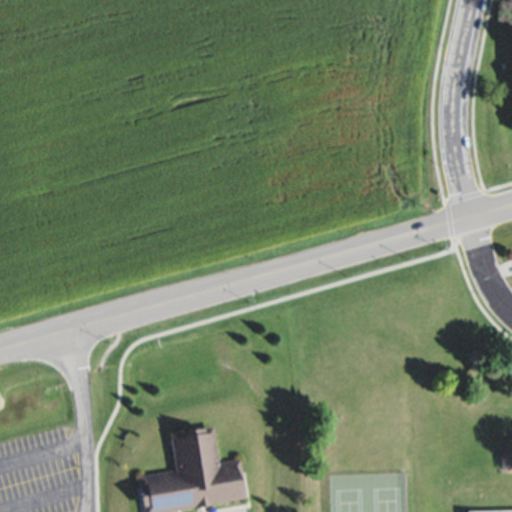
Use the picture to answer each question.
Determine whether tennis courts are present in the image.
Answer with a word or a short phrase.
Yes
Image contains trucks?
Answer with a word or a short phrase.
No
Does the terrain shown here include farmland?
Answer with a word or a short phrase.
Yes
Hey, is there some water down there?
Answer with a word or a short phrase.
No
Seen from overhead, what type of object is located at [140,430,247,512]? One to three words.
building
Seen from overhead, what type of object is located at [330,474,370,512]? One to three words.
tennis court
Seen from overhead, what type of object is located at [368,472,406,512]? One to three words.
tennis court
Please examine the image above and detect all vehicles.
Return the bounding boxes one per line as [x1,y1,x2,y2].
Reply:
[475,18,482,30]
[464,136,470,148]
[463,87,470,99]
[412,222,424,228]
[480,0,487,12]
